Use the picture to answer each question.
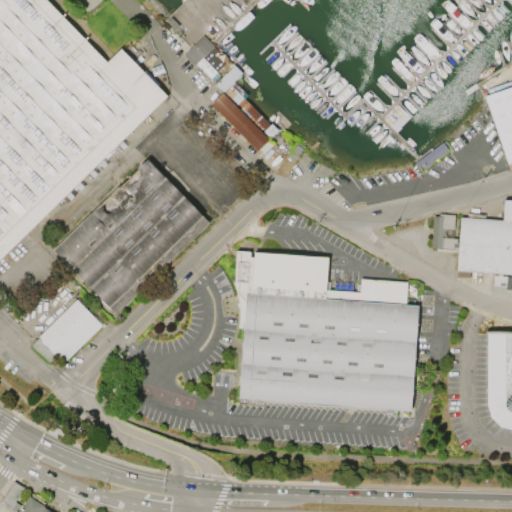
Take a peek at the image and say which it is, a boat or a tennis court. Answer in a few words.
boat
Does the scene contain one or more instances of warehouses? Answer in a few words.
Yes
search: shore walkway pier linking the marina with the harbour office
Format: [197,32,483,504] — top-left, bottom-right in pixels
[344,98,432,158]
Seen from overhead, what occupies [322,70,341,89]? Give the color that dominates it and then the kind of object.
white boat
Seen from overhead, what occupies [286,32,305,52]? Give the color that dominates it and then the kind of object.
white boat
